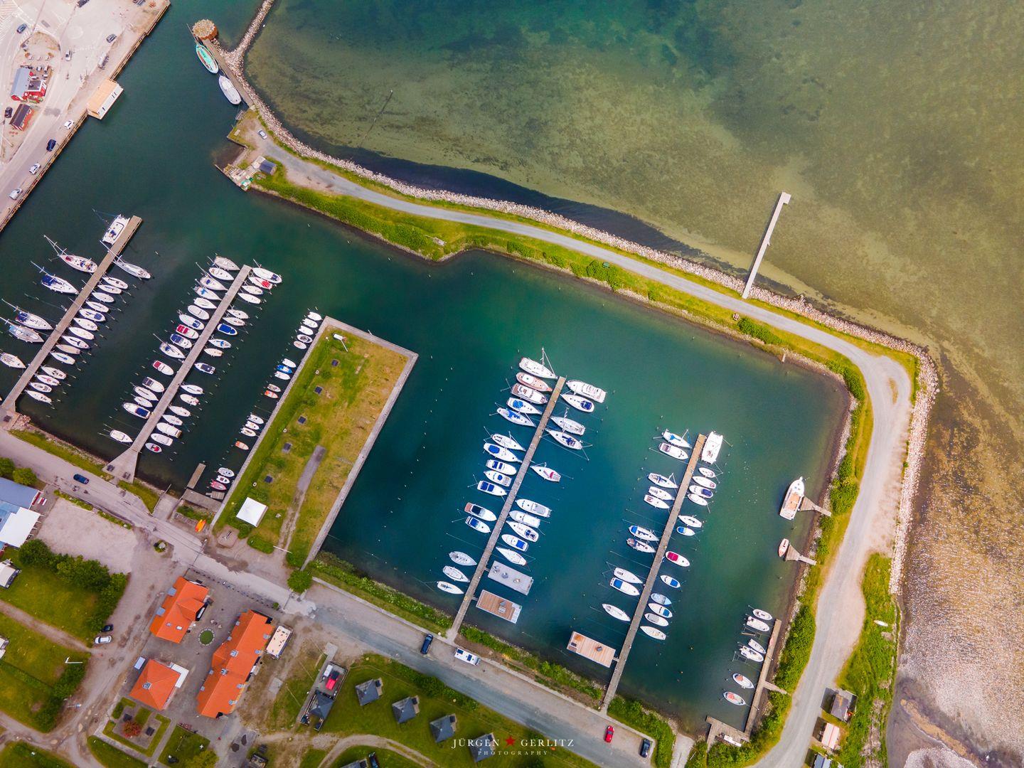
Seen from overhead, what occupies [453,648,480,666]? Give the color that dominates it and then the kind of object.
white vehicle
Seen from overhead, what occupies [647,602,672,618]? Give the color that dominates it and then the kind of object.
white boat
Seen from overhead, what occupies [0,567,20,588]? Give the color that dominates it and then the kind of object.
white camper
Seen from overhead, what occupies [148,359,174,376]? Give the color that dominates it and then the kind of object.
white boat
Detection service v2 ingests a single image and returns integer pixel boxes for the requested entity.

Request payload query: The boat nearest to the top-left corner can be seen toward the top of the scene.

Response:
[190,33,219,76]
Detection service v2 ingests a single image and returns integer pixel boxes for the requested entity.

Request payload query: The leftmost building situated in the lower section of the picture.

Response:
[0,478,46,547]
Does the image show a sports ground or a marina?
marina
